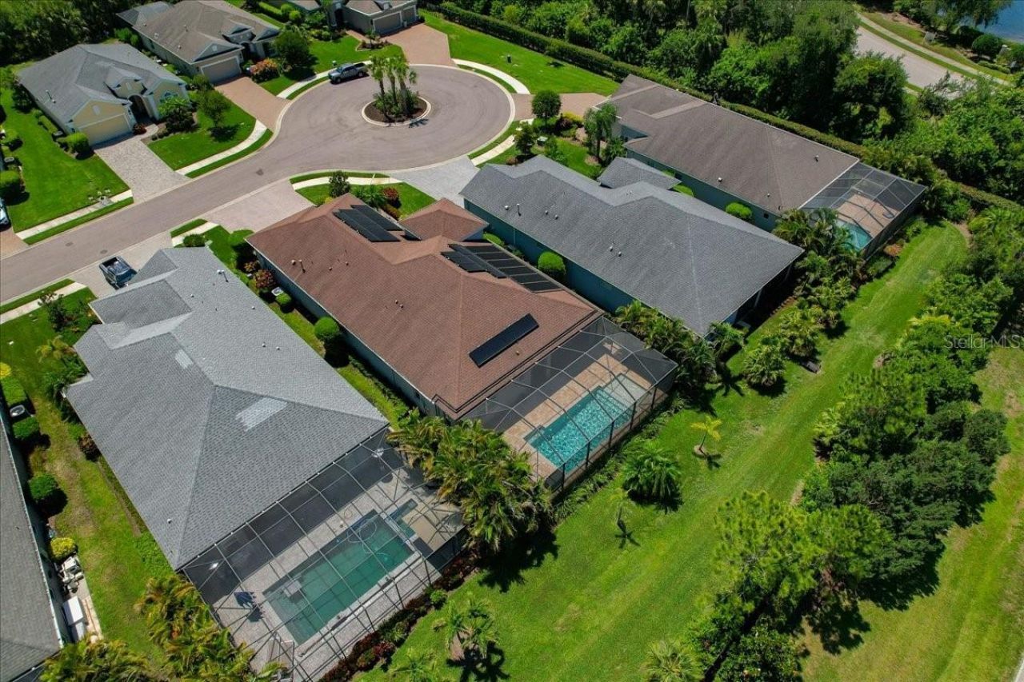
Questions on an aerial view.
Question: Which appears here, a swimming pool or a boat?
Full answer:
The image shows a swimming pool.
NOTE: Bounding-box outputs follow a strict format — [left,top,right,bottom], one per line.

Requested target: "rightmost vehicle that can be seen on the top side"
[327,60,369,85]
